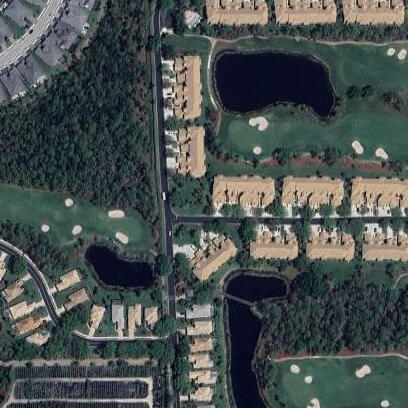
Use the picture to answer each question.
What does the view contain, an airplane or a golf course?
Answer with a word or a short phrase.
golf course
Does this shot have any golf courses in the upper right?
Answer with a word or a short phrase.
Yes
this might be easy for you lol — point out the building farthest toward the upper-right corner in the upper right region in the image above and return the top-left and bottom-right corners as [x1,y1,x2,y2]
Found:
[344,0,405,27]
